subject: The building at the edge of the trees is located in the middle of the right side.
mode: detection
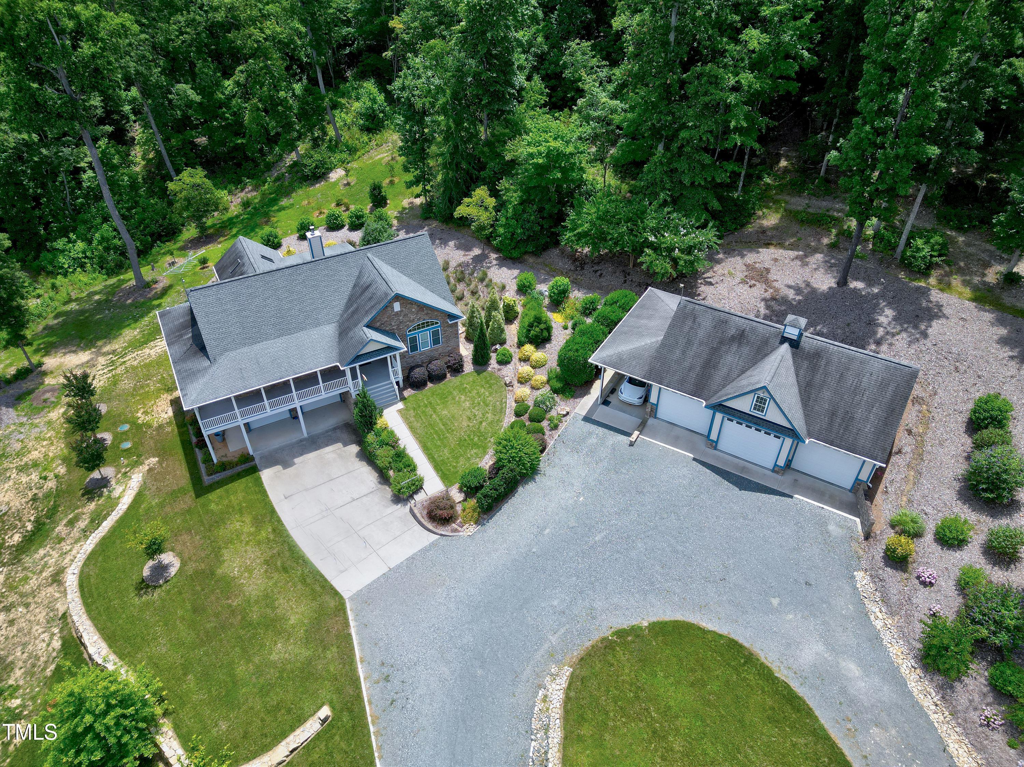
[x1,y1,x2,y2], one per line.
[585,288,923,494]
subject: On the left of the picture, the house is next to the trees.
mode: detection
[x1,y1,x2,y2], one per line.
[155,222,468,461]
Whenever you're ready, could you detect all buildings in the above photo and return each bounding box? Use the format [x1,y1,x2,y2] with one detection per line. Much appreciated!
[585,288,923,494]
[155,222,468,461]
